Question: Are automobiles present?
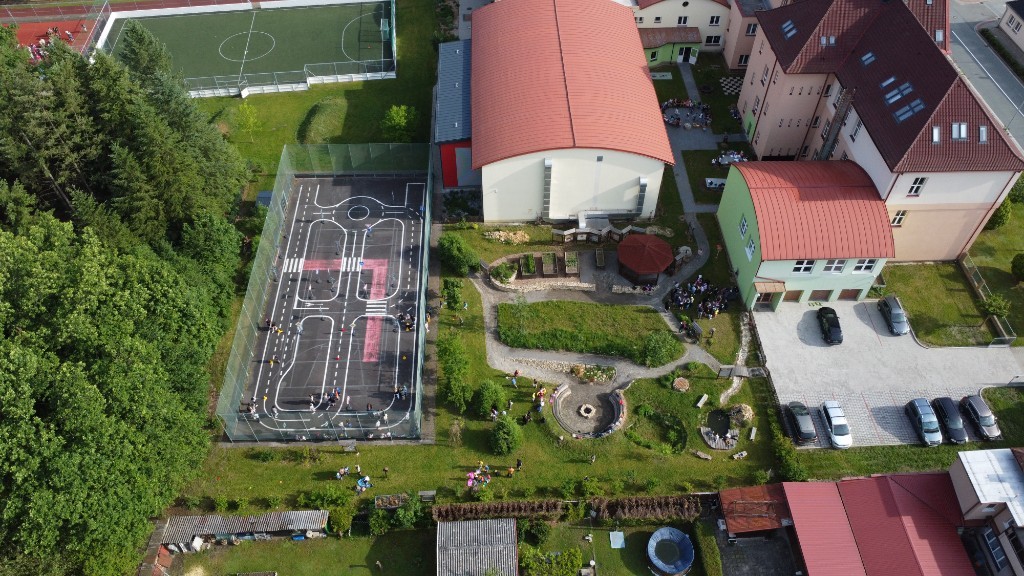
Yes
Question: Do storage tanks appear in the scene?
No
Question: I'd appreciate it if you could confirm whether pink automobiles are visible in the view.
No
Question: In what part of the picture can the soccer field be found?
top left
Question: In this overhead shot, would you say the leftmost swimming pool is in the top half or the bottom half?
bottom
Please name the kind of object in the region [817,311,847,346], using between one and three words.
car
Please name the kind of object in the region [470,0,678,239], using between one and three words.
building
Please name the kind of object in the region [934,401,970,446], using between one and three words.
car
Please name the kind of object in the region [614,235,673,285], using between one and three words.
gazebo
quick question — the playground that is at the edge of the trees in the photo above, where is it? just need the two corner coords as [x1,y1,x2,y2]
[233,174,430,441]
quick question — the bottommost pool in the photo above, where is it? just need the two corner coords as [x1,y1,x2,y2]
[648,529,694,576]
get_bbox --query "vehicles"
[965,400,1000,442]
[788,406,818,447]
[817,311,847,346]
[820,405,851,449]
[882,301,911,336]
[907,402,942,447]
[934,401,970,446]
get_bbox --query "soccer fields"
[83,0,397,97]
